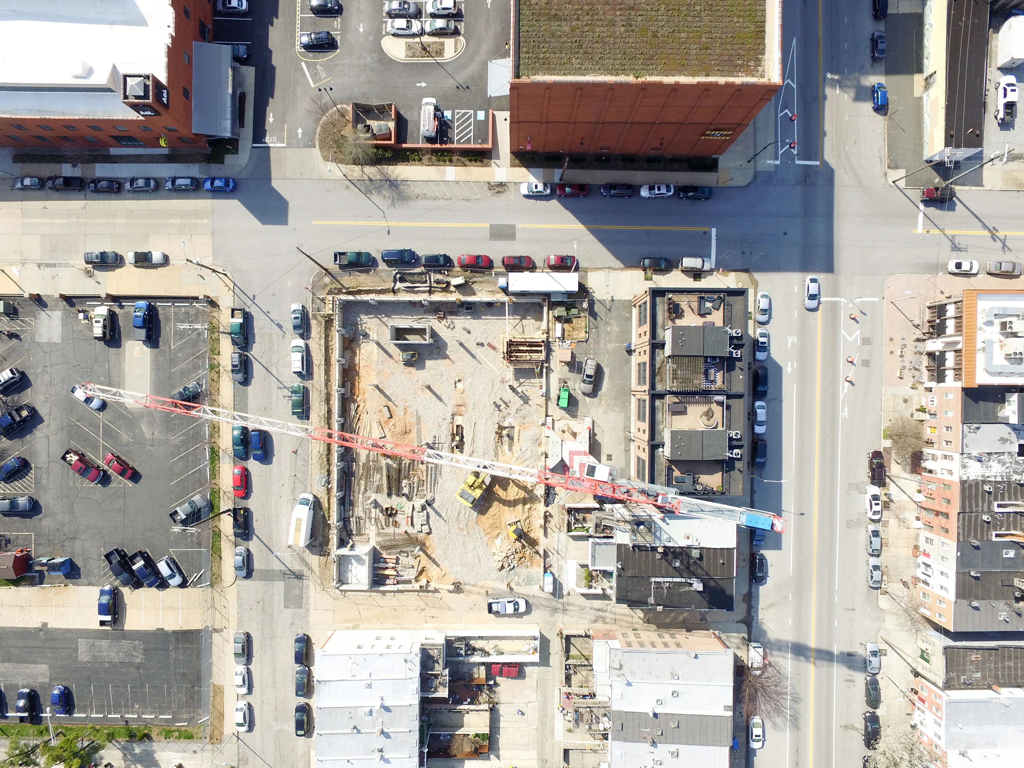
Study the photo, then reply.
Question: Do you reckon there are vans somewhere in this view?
Yes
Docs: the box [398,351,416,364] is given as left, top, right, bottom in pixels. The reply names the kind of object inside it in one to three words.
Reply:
vehicle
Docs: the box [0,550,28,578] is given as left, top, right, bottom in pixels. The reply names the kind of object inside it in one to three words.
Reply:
shed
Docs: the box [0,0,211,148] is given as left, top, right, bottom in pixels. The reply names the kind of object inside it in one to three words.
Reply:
building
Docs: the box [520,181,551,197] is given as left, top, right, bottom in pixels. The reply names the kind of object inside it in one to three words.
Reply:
car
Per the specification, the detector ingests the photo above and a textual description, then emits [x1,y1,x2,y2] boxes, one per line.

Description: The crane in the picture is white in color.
[67,378,785,540]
